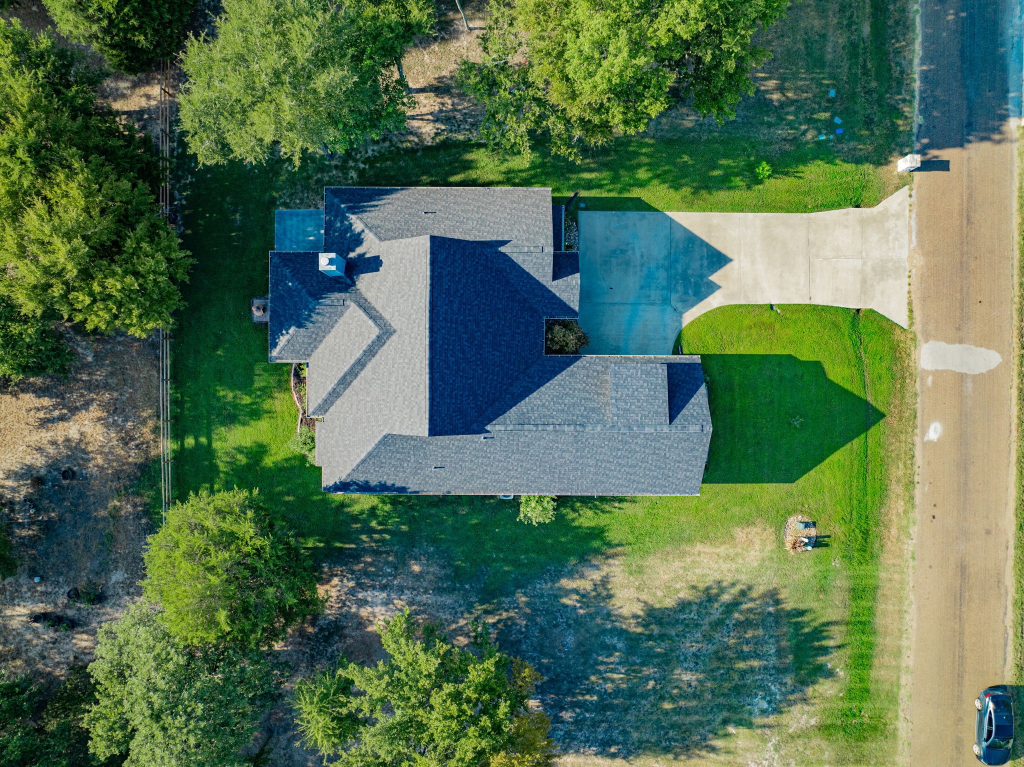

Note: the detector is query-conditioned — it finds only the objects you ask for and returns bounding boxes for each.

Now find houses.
[267,185,712,498]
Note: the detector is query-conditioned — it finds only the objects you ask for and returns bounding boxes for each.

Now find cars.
[974,688,1020,767]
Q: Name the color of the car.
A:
blue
